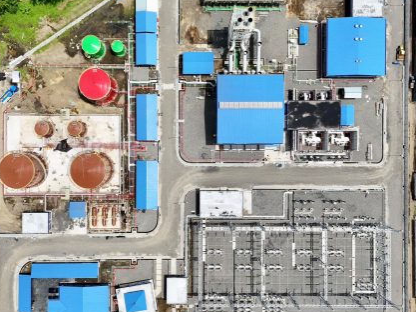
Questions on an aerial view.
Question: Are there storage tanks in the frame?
Yes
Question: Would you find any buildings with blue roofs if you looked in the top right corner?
Yes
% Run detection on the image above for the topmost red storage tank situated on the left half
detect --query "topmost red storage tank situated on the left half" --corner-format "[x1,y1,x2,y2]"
[78,68,118,105]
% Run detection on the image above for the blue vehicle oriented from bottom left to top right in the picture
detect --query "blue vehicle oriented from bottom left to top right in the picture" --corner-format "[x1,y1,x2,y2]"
[0,83,17,102]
